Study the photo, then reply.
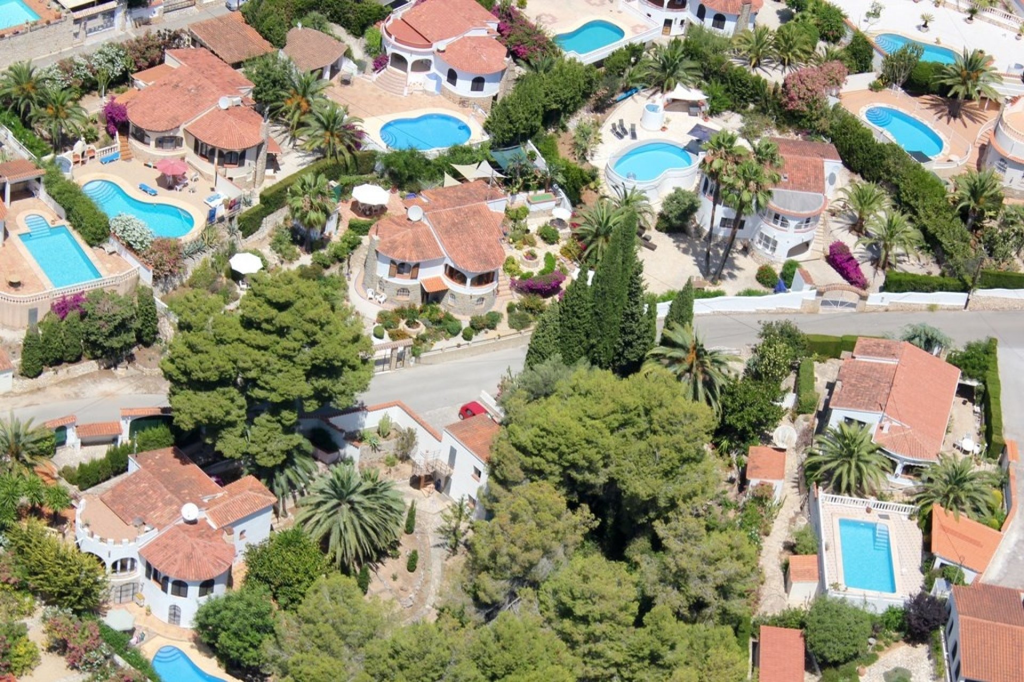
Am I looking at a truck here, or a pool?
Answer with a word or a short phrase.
pool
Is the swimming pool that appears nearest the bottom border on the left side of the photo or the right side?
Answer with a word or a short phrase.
left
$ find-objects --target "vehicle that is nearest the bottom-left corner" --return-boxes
[459,402,497,420]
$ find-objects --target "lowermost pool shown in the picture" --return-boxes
[143,639,242,682]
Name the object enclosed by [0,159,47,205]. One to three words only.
building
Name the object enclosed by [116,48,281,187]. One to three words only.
house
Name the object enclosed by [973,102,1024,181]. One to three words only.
house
